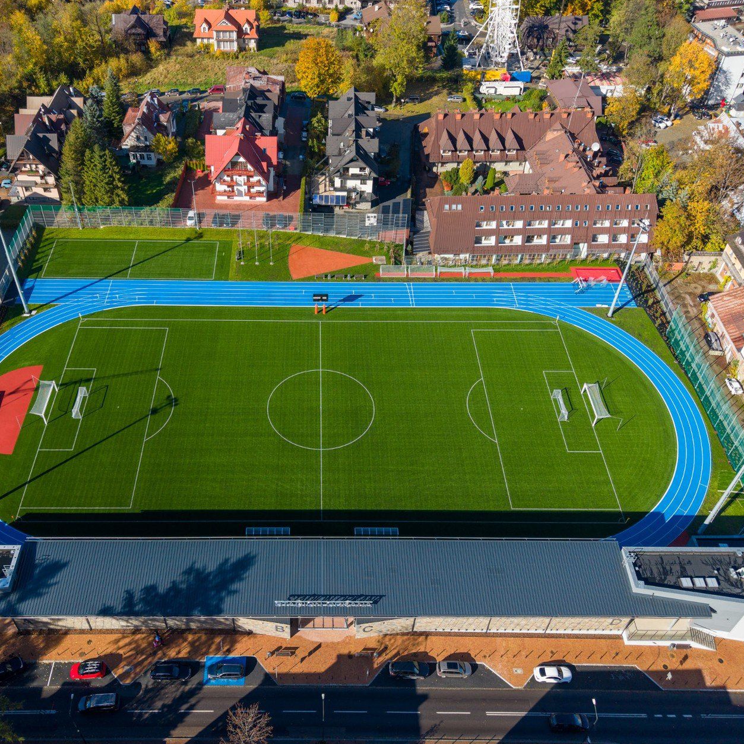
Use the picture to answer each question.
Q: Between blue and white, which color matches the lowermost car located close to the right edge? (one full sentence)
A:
From above, the lowermost car located close to the right edge appears white.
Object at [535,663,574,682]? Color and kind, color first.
white car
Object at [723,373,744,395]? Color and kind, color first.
white car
